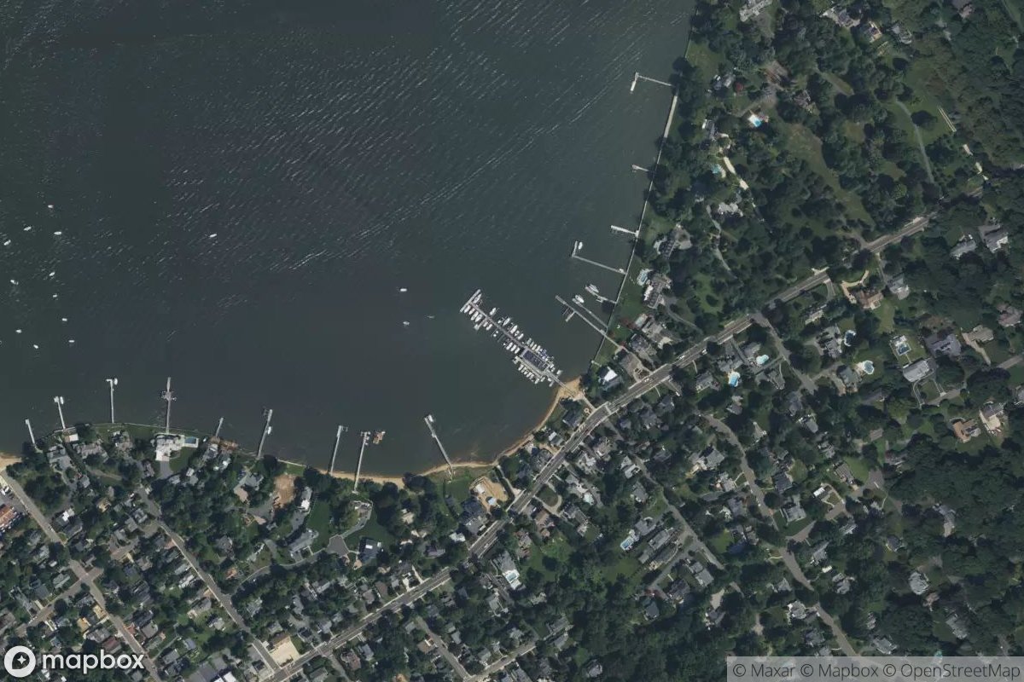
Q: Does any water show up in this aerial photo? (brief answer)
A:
Yes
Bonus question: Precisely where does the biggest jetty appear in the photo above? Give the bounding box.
[460,290,576,398]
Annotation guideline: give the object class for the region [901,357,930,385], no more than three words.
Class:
house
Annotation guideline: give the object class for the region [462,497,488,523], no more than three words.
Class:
house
